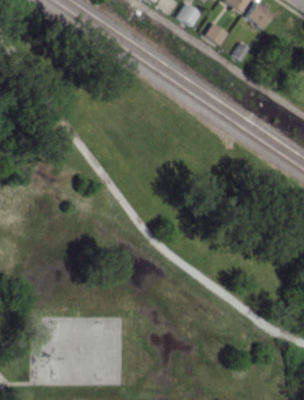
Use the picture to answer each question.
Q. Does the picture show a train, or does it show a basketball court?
basketball court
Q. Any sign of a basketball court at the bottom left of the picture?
Yes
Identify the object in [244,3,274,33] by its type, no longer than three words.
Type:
house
